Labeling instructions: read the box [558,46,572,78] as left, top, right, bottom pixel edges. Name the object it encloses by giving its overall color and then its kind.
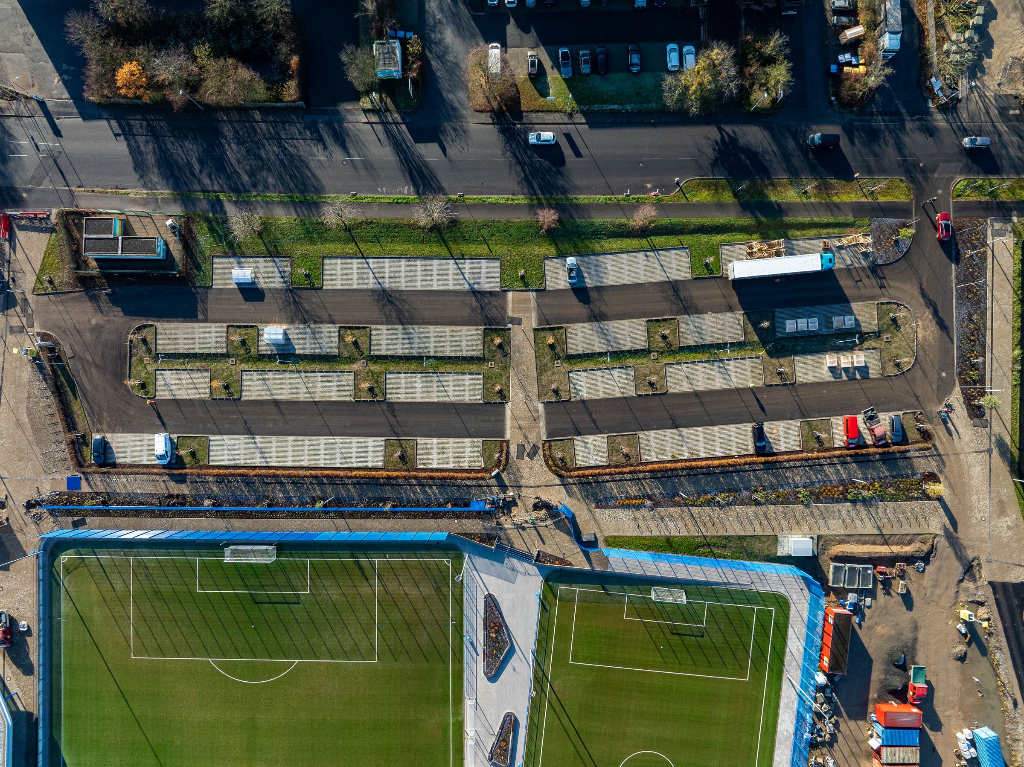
blue car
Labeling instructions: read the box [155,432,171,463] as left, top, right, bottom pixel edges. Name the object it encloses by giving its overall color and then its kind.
white vehicle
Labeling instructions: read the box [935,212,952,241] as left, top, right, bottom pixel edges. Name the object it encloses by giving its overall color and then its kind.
red car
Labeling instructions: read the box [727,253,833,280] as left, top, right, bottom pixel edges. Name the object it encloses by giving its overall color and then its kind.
white truck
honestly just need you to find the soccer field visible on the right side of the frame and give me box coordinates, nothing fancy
[523,578,789,767]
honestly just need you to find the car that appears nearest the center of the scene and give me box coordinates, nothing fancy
[566,257,578,284]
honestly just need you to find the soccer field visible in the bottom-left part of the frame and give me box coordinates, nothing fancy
[50,541,464,767]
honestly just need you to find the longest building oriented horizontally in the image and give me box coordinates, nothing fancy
[83,218,166,259]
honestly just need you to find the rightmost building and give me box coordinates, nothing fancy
[788,536,812,556]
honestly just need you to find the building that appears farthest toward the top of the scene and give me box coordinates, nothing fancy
[373,39,402,81]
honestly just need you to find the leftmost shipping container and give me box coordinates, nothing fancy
[821,608,853,675]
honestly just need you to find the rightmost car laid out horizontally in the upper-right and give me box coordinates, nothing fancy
[961,135,992,149]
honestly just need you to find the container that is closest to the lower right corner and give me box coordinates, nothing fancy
[973,726,1007,767]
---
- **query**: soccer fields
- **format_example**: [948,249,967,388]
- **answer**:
[50,541,464,767]
[523,578,789,767]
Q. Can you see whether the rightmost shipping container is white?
No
